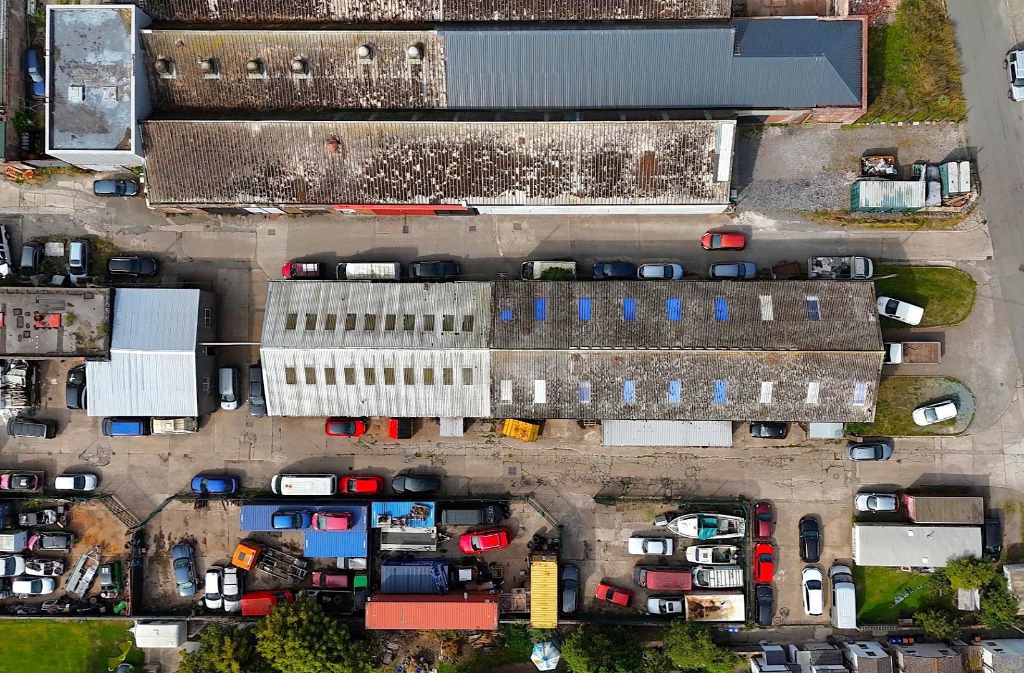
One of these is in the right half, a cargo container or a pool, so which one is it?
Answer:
cargo container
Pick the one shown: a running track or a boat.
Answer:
boat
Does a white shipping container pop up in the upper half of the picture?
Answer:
Yes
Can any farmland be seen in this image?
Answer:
No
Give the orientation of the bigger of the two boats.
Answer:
from side to side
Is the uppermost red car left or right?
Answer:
right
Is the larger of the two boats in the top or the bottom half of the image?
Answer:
bottom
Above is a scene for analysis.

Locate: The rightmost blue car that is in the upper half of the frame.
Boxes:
[708,258,756,279]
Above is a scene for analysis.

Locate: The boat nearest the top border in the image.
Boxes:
[668,512,744,539]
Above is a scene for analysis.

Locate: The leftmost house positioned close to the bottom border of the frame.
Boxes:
[747,639,792,673]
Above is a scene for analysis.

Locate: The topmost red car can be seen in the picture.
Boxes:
[699,231,745,252]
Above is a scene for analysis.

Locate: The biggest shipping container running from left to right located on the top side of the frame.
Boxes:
[846,181,927,213]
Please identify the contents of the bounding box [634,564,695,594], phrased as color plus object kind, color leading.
red van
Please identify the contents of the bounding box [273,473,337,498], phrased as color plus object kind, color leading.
white vehicle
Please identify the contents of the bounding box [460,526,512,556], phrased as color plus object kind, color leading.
red car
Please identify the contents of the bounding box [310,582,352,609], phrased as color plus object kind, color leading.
black truck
